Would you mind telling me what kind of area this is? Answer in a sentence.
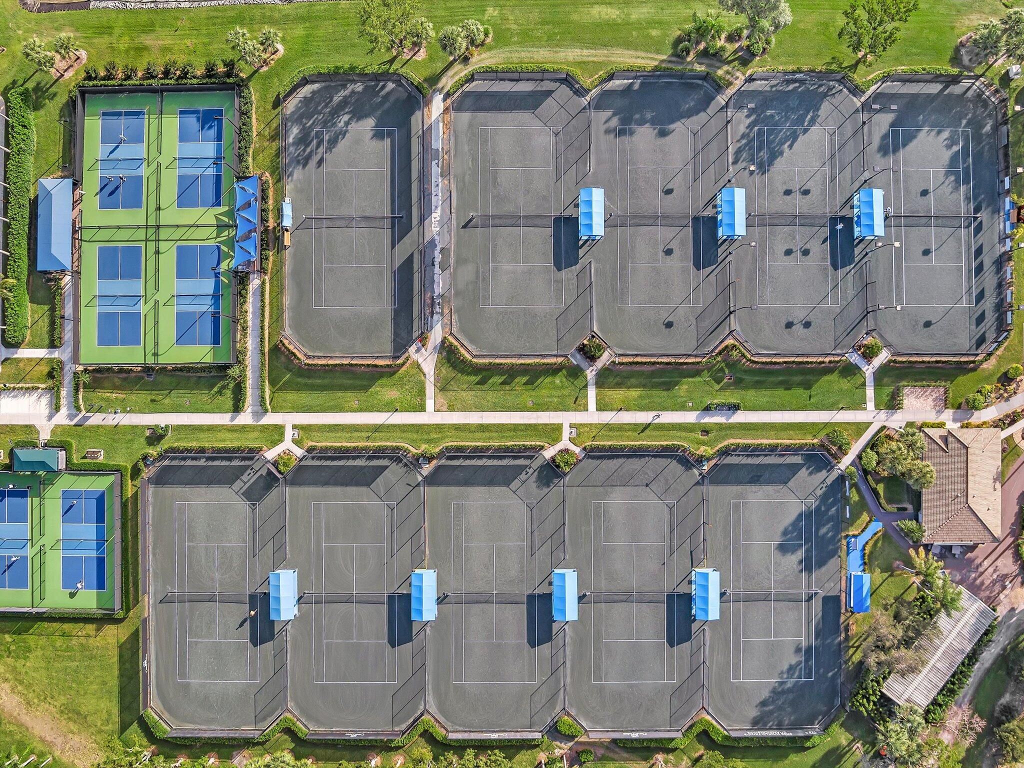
What you see here is a sports ground.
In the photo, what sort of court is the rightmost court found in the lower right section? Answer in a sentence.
The rightmost court found in the lower right section in the image is a tennis court.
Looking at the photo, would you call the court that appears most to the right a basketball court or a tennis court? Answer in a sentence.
I'd say the court that appears most to the right is a tennis court.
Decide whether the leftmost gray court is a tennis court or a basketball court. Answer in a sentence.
In the photo, the leftmost gray court shows up as a tennis court.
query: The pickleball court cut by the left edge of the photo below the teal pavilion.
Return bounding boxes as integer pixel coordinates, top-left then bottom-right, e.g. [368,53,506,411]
[0,471,44,607]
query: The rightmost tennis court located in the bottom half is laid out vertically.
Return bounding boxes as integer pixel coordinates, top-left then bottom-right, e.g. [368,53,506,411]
[703,452,841,729]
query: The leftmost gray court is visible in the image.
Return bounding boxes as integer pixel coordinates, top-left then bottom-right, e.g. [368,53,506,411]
[149,453,287,729]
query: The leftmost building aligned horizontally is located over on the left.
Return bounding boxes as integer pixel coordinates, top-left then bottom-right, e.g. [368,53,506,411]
[14,448,68,471]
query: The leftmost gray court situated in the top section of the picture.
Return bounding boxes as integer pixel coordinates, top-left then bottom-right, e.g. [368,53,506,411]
[285,82,423,355]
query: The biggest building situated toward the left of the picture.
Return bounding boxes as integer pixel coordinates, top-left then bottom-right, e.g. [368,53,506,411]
[37,179,83,272]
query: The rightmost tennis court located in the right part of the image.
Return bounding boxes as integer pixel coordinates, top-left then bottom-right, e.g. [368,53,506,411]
[863,81,1001,353]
